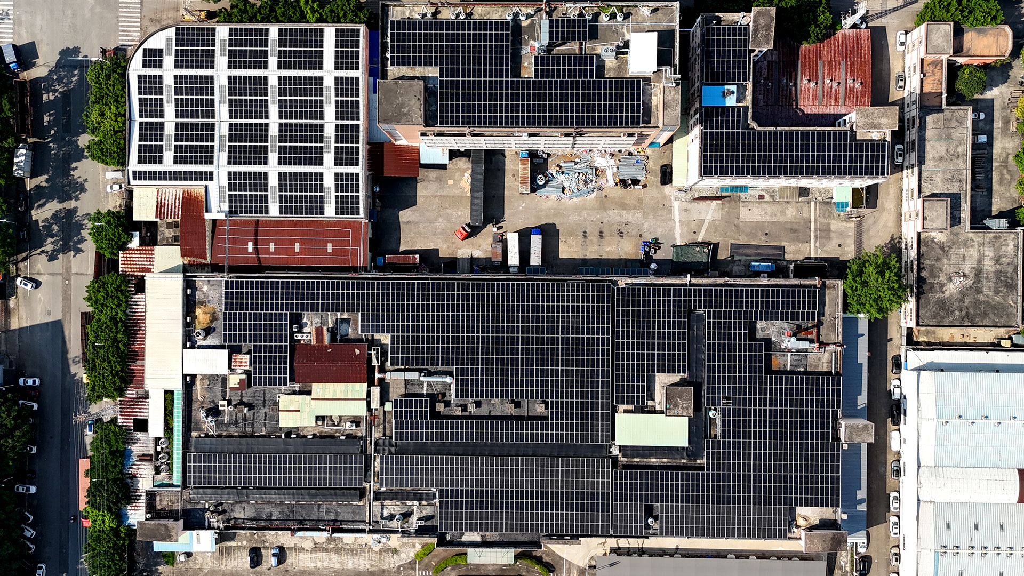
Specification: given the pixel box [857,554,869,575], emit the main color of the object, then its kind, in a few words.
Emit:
black vehicle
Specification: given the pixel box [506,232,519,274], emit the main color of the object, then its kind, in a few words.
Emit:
white vehicle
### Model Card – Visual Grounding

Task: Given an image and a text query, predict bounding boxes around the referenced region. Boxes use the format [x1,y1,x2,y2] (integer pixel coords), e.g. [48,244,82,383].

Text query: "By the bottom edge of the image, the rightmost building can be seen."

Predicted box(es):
[900,351,1024,576]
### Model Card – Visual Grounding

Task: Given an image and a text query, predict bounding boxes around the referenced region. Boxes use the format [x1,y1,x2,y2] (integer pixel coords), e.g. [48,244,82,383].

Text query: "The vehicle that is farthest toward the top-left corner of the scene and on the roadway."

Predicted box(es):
[1,41,24,73]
